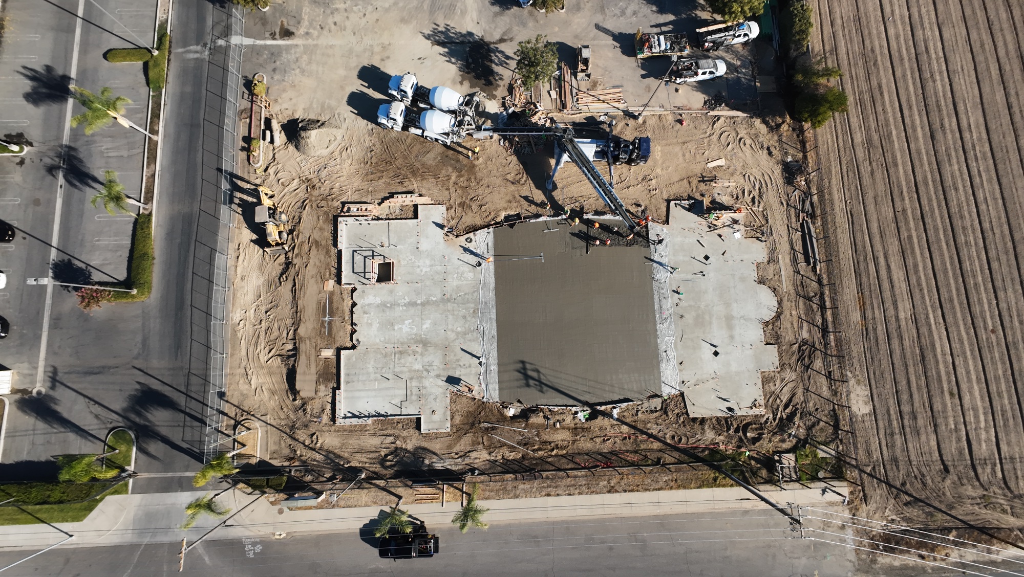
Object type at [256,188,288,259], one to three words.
work vehicle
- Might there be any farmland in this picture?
Yes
